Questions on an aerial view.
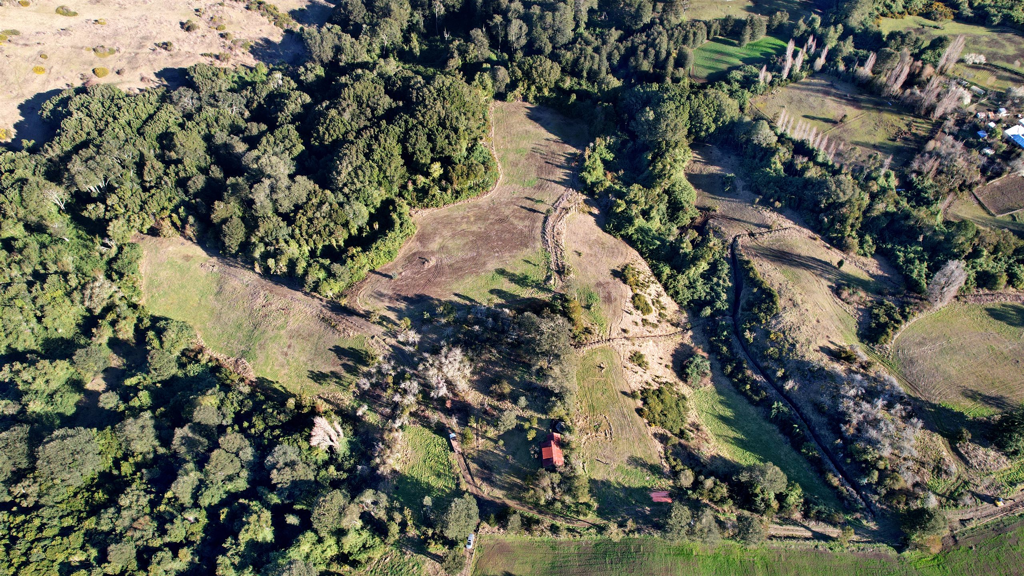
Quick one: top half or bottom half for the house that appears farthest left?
bottom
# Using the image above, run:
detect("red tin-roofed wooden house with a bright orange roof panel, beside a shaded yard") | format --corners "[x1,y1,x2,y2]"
[543,431,563,467]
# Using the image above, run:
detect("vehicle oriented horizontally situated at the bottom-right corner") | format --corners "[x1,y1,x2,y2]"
[992,495,1020,507]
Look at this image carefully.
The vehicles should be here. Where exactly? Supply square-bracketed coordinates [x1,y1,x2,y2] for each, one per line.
[449,430,460,453]
[466,531,475,548]
[992,495,1020,507]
